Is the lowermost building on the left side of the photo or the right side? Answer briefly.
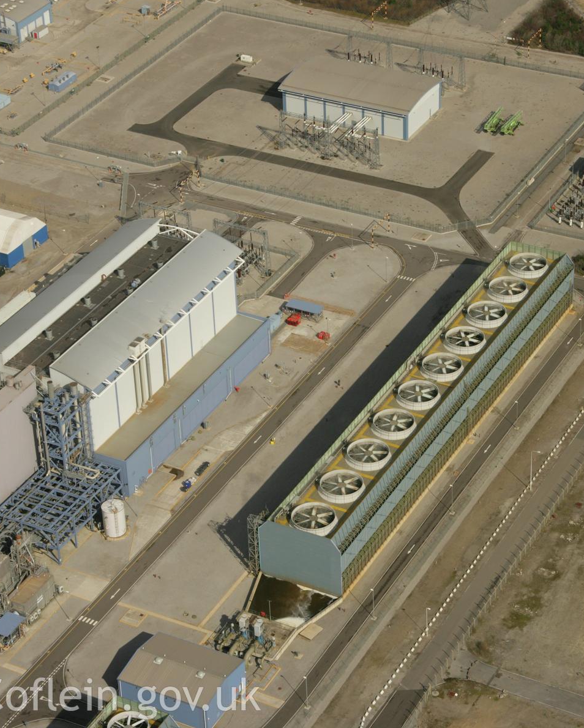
left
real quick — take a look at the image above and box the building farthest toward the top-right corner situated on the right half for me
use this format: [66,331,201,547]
[278,57,446,141]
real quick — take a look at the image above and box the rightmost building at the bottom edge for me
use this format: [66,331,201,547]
[116,632,248,728]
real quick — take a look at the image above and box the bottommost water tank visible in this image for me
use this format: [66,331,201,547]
[101,497,129,543]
